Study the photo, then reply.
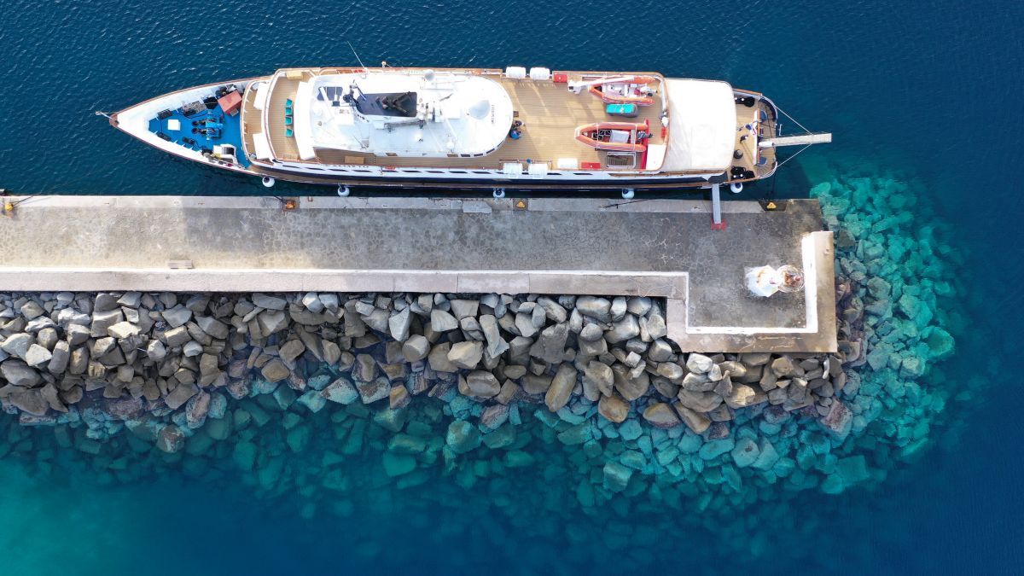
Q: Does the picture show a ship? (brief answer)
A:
Yes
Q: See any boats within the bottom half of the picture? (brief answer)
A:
No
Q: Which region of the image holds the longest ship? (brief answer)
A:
top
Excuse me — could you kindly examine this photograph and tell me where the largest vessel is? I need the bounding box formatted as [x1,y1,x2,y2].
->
[95,48,832,191]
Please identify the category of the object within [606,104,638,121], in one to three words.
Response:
boat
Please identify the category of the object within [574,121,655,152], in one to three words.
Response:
boat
